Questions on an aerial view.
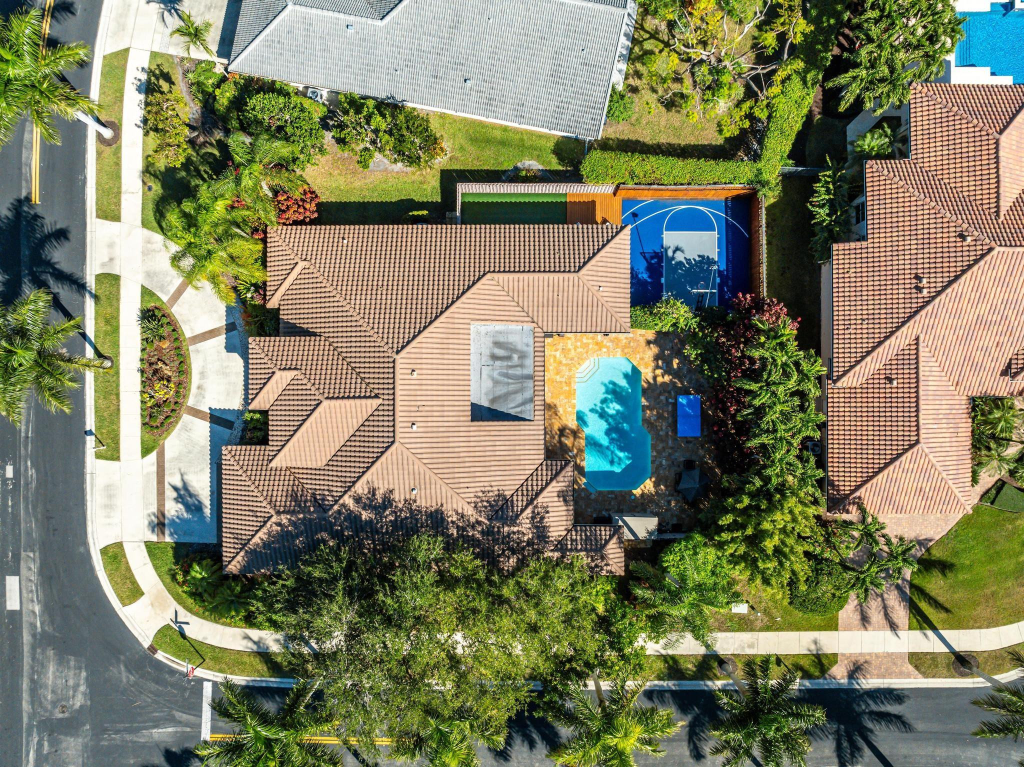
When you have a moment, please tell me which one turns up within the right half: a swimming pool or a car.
swimming pool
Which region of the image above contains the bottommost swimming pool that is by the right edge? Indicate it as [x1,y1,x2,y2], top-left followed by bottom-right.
[956,12,1024,82]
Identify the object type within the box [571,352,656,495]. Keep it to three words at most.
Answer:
swimming pool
